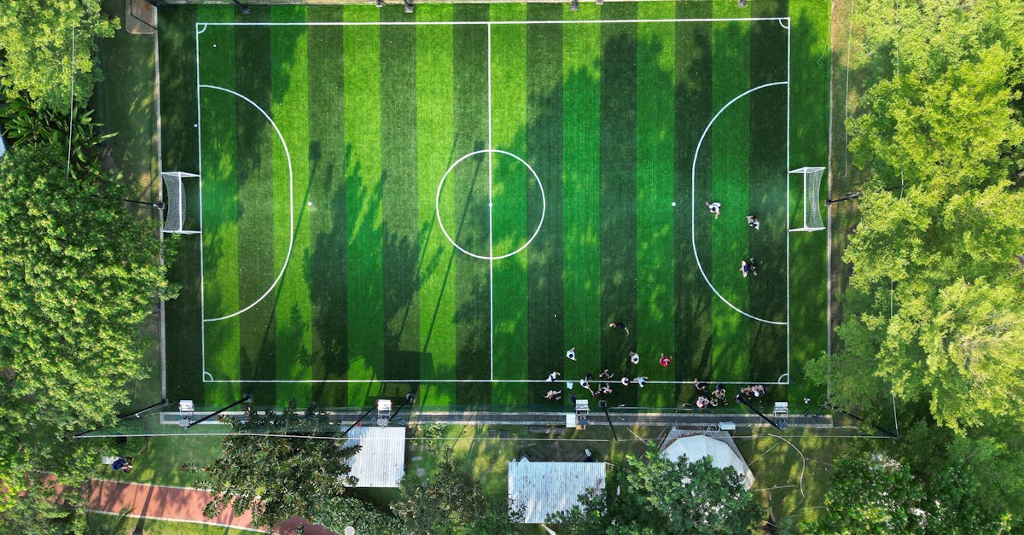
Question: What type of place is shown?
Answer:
sports ground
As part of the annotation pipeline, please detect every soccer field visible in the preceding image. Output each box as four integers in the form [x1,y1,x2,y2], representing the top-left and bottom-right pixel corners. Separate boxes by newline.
[162,0,829,413]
